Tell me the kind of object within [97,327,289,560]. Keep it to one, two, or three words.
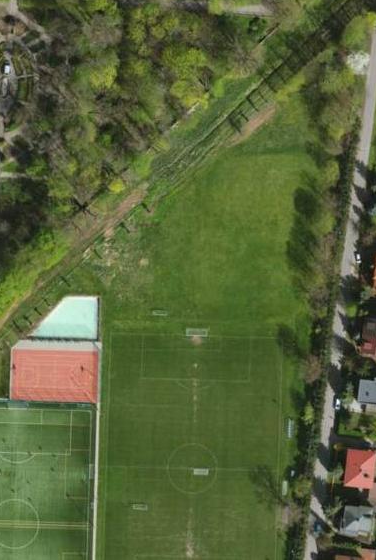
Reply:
soccer field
